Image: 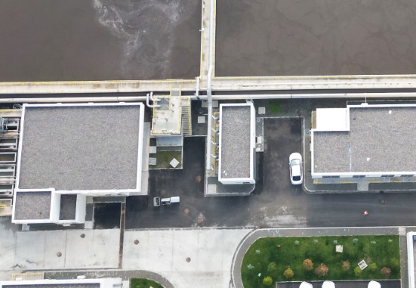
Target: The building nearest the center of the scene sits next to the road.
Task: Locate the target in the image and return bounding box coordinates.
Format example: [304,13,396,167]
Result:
[210,96,263,184]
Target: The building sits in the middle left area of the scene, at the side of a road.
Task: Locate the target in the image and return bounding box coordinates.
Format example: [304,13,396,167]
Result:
[11,102,151,230]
